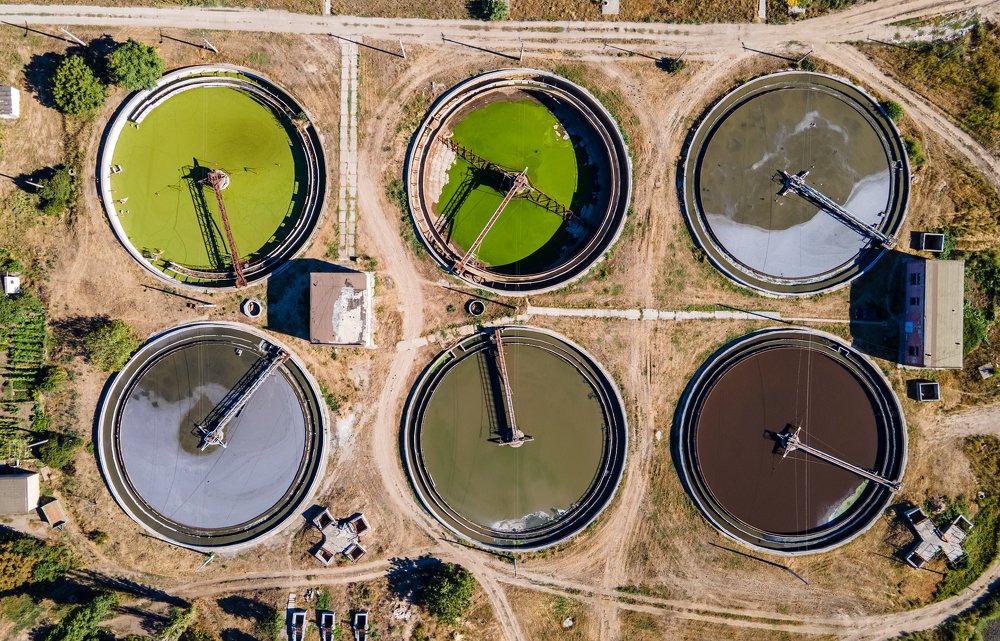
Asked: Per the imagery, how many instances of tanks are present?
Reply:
6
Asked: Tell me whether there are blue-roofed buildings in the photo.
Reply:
No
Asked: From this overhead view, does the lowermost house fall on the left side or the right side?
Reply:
left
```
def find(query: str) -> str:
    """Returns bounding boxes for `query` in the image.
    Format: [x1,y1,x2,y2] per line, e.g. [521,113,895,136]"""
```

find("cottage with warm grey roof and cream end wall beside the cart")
[0,473,40,514]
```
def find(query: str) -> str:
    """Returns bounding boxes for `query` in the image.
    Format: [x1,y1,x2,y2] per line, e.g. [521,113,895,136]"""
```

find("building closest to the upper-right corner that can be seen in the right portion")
[905,260,964,368]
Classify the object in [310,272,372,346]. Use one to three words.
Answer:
building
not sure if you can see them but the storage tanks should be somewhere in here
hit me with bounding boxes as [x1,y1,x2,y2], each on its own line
[100,323,327,550]
[680,329,906,555]
[404,327,628,552]
[683,70,909,296]
[101,65,327,291]
[407,67,632,292]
